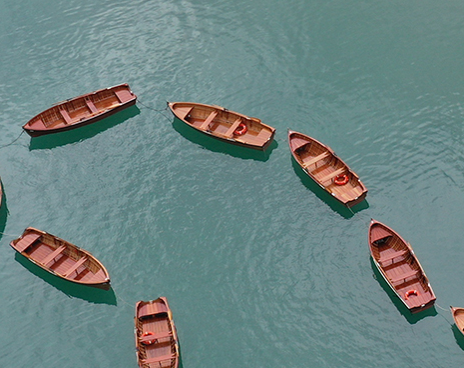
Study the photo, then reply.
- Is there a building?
No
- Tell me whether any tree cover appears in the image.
No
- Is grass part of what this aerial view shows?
No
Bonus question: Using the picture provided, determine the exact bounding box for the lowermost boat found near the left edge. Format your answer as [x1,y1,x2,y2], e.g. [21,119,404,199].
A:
[9,225,110,287]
